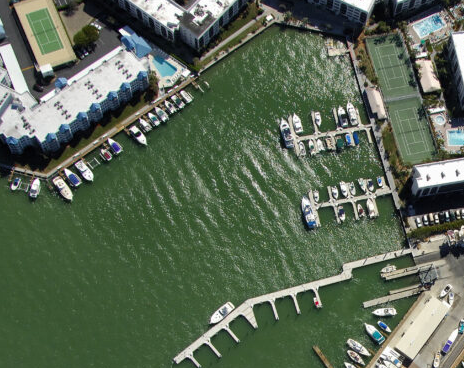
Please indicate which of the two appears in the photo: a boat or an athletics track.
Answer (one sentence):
The image shows a boat.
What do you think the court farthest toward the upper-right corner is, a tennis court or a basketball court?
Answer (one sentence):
The court farthest toward the upper-right corner can be classified as a tennis court.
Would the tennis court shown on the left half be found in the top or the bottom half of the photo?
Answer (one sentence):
The tennis court shown on the left half is in the top half of the image.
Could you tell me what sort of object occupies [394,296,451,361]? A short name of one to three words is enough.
shed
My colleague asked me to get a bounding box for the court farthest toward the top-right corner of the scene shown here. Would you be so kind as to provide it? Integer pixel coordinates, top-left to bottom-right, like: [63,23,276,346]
[366,27,420,100]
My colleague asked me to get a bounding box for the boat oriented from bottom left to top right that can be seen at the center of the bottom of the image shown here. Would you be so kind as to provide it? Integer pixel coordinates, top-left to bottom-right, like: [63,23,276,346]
[209,301,236,323]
